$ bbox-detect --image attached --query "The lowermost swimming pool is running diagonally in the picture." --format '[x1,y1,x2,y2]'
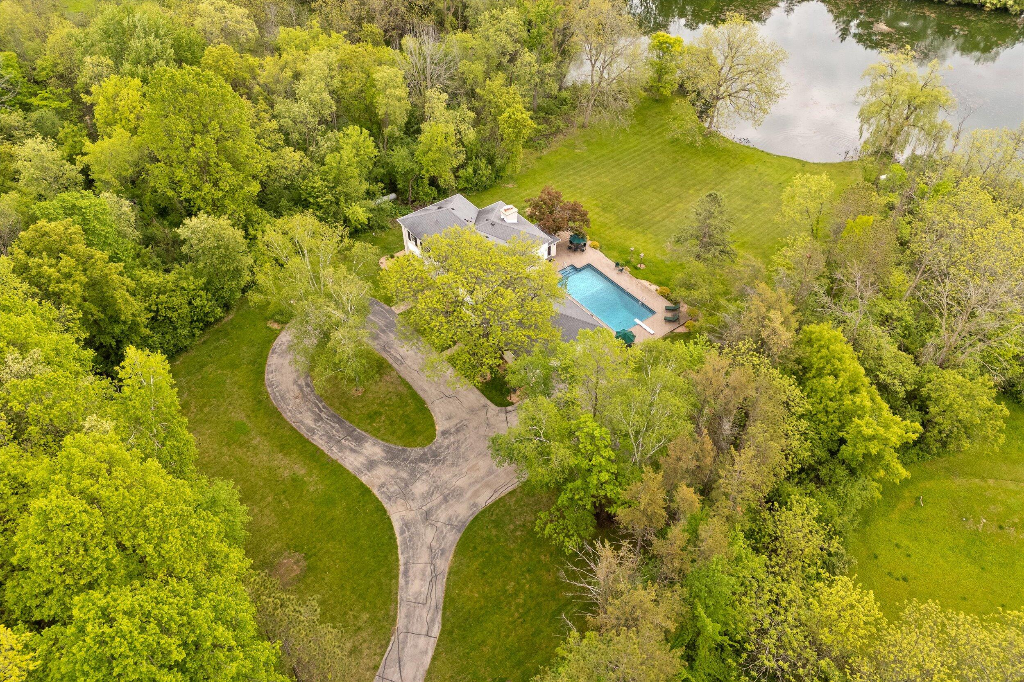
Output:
[550,260,658,333]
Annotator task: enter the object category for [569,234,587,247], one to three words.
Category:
umbrella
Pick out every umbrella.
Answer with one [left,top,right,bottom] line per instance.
[614,330,637,345]
[569,234,587,247]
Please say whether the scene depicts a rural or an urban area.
rural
